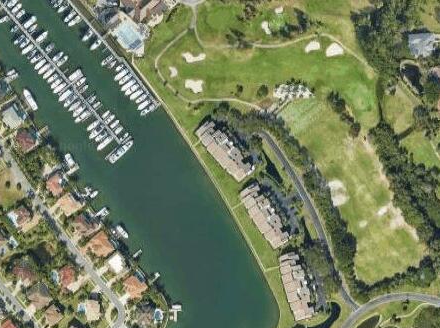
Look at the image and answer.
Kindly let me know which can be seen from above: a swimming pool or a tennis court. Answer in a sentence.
Looking from above, you can make out a swimming pool.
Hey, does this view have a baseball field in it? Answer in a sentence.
No, there isn't any baseball field down there.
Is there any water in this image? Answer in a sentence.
Yes, the picture does contain water.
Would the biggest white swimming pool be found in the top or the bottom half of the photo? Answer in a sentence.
You can find the biggest white swimming pool in the top half.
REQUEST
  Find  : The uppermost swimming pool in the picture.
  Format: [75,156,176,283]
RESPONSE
[110,12,145,56]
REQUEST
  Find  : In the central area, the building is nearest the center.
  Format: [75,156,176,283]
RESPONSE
[194,120,254,182]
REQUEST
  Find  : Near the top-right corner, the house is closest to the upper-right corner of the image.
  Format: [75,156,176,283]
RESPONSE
[408,32,435,53]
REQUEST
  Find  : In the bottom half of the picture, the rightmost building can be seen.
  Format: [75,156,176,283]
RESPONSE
[278,253,316,319]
